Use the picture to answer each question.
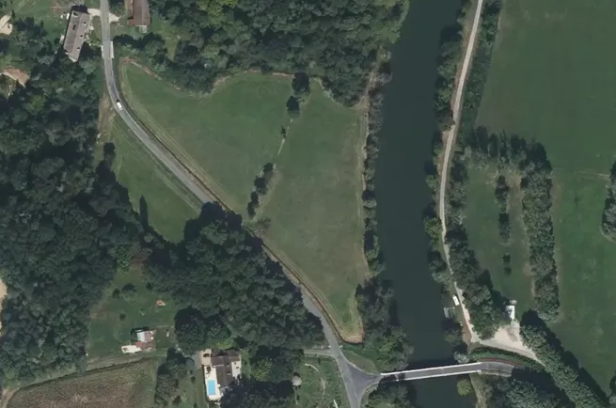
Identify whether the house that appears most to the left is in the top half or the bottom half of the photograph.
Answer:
top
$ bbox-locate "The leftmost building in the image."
[64,8,89,61]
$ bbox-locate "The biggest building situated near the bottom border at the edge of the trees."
[210,350,240,390]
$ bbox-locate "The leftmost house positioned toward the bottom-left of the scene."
[136,330,156,350]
